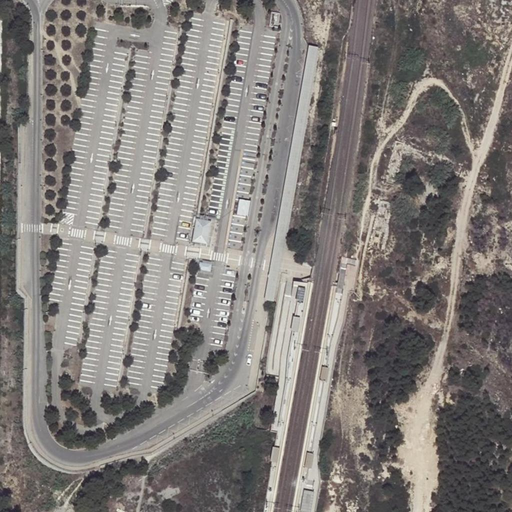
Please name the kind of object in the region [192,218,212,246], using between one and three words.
building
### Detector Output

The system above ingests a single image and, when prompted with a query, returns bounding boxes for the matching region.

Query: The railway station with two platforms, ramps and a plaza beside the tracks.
[256,242,358,512]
